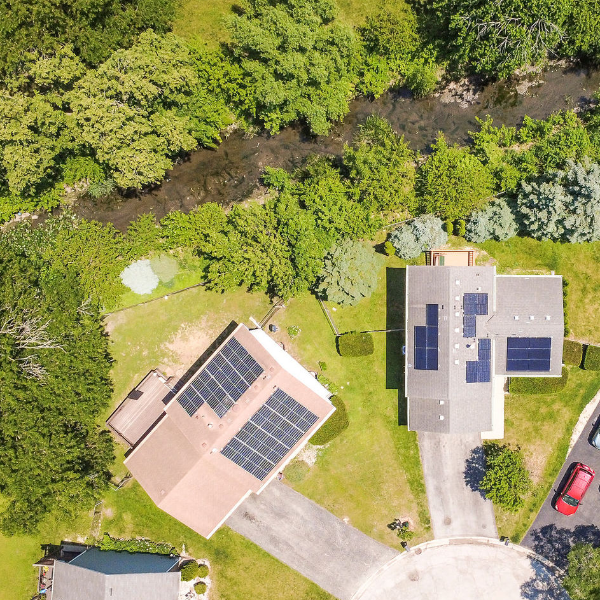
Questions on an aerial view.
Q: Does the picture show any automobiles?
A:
Yes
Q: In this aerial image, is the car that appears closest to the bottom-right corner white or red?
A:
red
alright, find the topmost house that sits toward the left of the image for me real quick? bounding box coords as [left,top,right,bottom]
[124,323,338,539]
